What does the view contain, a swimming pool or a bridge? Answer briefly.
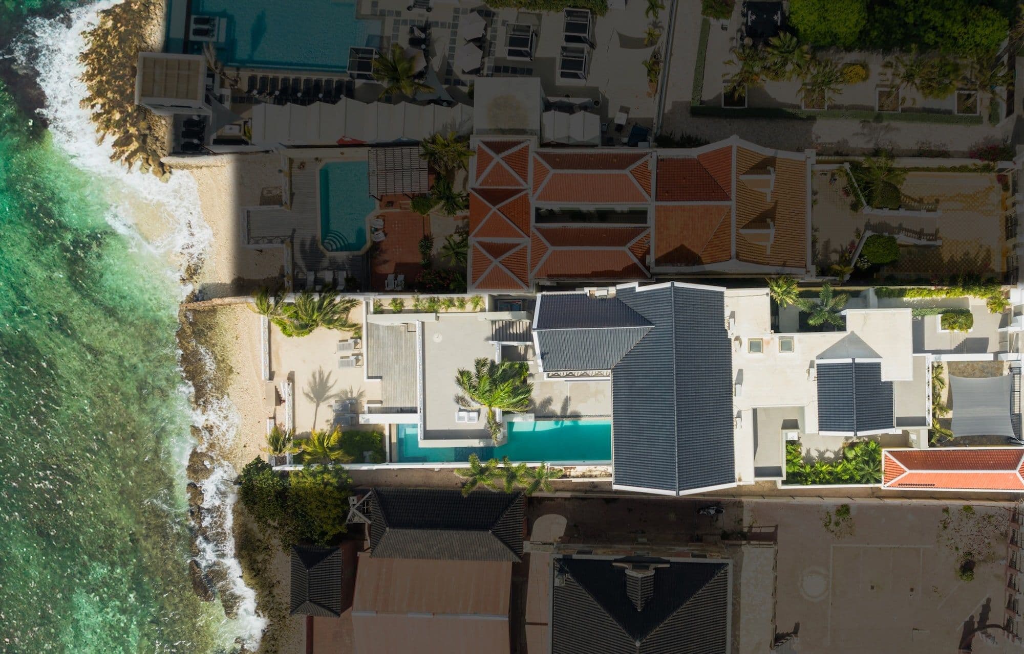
swimming pool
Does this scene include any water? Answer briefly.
Yes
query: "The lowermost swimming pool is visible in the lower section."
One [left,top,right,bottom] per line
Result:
[398,416,613,463]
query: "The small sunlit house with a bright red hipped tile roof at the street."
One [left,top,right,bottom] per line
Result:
[879,448,1024,492]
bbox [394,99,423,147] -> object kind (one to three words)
tent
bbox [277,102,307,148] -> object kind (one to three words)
tent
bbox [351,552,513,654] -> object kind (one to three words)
shed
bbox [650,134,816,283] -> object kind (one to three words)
house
